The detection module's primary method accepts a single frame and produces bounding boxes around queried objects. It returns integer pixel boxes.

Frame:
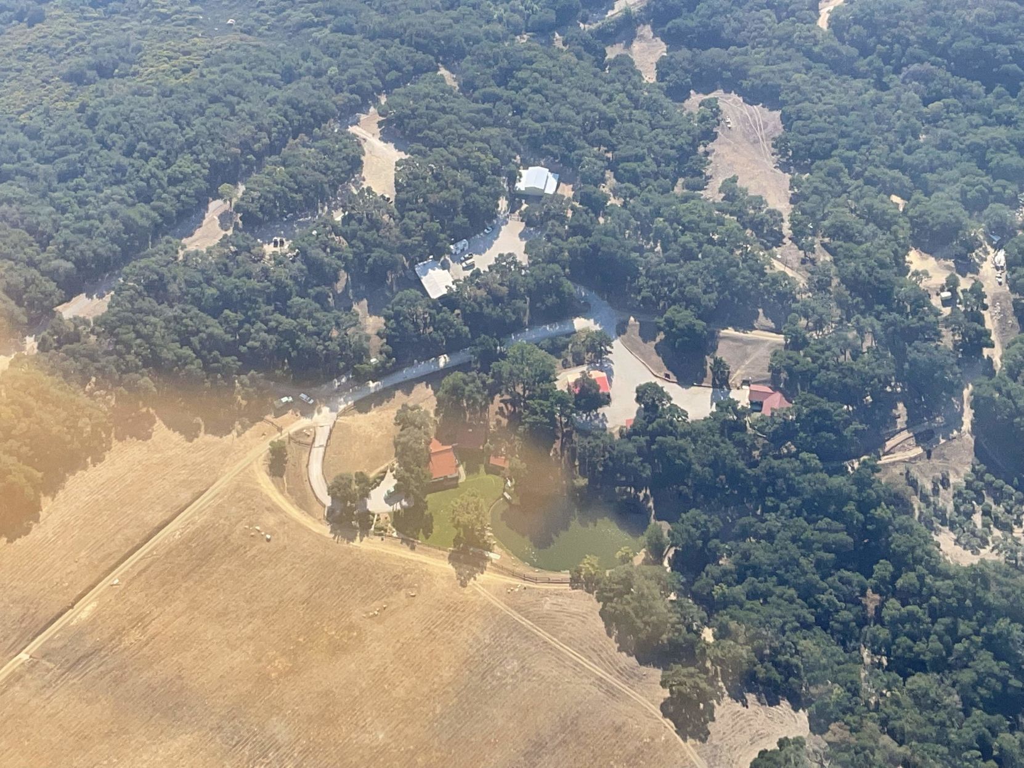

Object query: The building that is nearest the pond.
[486,454,512,475]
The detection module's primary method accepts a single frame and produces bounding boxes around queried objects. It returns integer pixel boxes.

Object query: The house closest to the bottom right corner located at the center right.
[744,385,796,420]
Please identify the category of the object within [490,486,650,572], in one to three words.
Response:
pond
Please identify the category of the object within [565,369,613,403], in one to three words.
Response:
house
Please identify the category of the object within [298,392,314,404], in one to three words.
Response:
vehicle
